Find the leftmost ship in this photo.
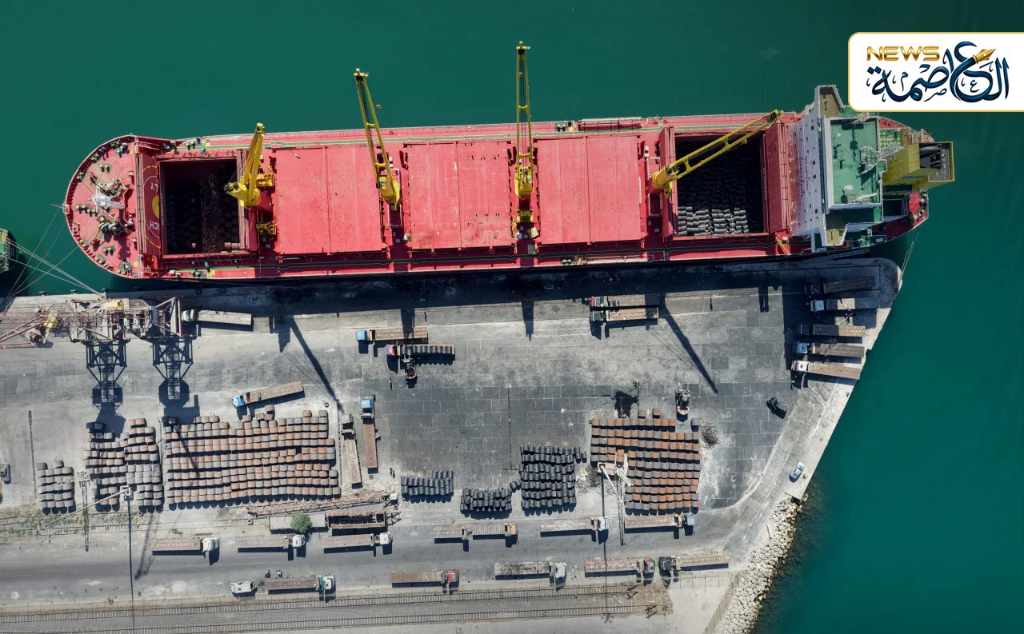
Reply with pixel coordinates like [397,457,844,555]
[0,232,28,271]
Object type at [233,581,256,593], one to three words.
vehicle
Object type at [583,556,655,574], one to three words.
vehicle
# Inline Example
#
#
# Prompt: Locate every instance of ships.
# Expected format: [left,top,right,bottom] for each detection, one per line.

[0,232,28,271]
[49,41,952,283]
